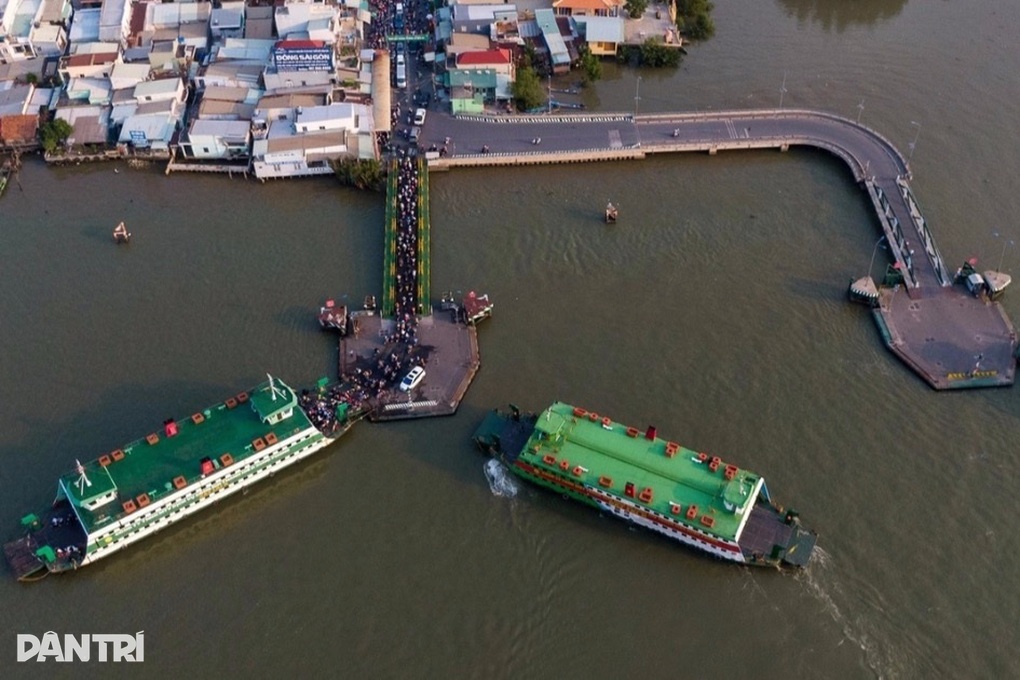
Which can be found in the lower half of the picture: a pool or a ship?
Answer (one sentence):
The feature located in the lower half of the picture is a ship.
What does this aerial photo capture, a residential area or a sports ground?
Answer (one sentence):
This looks like a residential area.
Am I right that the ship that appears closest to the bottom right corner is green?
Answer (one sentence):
Yes, the ship that appears closest to the bottom right corner is green.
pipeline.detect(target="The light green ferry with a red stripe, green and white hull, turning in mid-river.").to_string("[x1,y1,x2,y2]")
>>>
[468,397,820,574]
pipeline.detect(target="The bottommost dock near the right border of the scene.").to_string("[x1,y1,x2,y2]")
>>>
[871,282,1019,395]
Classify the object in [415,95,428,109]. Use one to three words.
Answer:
vehicle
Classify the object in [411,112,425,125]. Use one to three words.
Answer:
vehicle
